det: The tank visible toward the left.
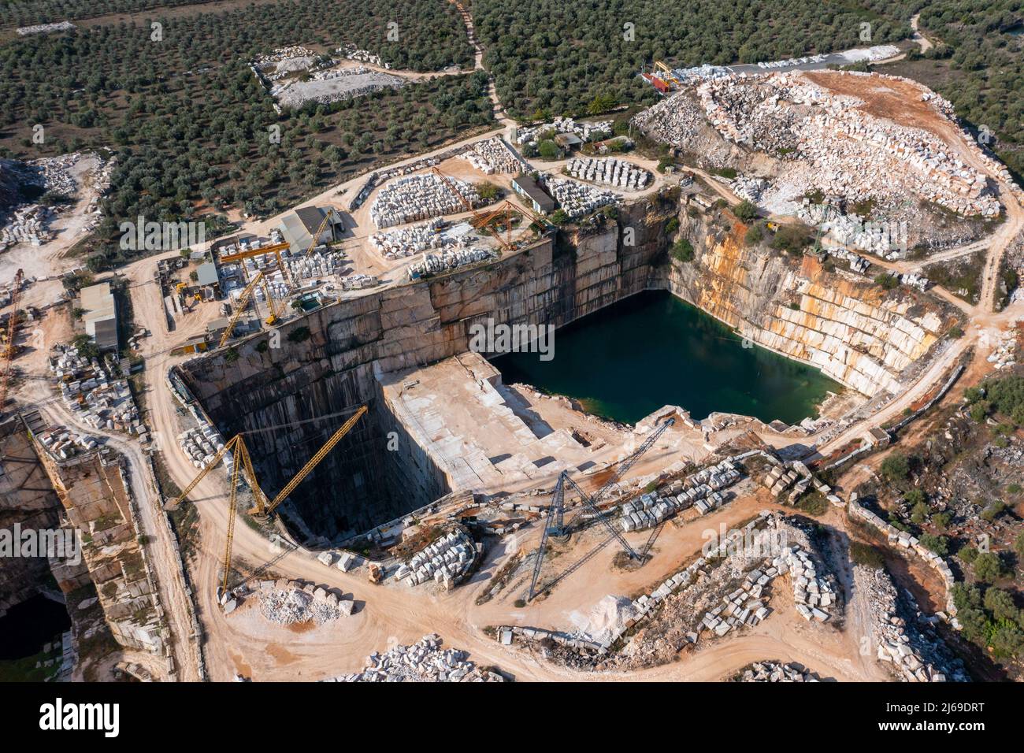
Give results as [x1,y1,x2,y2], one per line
[288,291,328,316]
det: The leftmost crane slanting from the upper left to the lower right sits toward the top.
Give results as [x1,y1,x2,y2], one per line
[432,165,552,256]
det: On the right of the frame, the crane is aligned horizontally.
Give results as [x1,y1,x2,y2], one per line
[759,199,914,256]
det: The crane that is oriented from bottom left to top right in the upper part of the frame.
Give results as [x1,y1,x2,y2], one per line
[212,208,332,354]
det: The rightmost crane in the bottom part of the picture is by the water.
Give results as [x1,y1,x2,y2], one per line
[520,417,672,612]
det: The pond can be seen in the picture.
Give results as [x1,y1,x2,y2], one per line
[0,591,71,646]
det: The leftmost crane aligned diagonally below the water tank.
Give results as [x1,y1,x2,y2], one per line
[162,404,370,605]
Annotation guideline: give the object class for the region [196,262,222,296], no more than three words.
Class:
shed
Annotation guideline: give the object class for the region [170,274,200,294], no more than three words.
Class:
work vehicle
